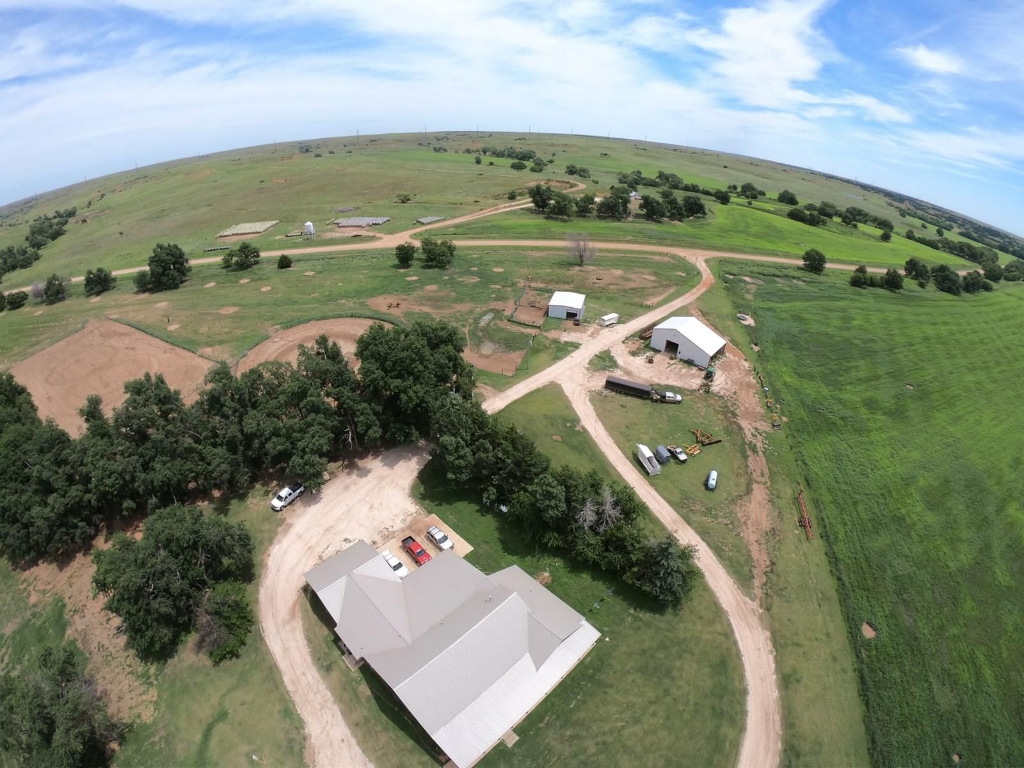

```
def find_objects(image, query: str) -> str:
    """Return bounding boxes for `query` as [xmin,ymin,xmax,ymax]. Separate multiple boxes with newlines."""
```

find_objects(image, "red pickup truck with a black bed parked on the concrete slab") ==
[396,531,435,569]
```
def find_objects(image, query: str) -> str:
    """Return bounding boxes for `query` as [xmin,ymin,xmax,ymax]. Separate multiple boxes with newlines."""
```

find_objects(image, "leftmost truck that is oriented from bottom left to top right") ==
[266,482,308,512]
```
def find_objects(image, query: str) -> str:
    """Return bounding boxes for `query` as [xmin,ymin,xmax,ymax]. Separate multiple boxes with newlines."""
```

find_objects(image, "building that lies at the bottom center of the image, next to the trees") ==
[302,541,601,768]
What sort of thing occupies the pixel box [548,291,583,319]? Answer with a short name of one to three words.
barn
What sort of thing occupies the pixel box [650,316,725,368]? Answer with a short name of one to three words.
barn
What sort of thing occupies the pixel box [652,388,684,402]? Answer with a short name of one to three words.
vehicle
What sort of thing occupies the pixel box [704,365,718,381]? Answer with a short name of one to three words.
work vehicle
